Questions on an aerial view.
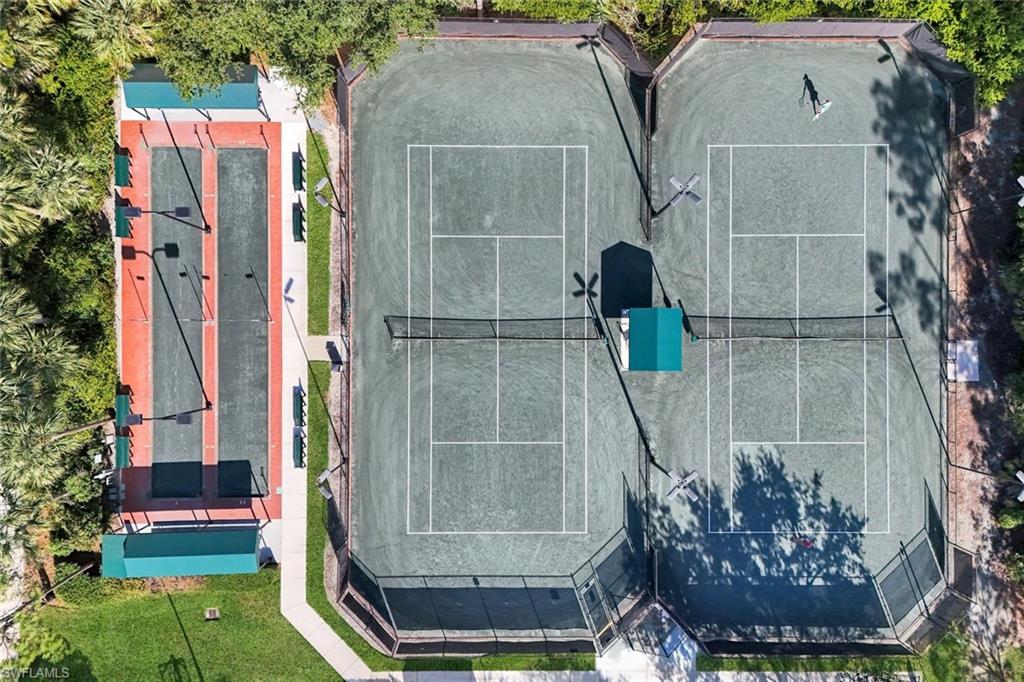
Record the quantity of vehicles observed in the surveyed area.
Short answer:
0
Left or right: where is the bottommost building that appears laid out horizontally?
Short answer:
left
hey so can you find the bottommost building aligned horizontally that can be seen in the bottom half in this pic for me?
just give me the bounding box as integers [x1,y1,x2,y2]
[101,518,272,578]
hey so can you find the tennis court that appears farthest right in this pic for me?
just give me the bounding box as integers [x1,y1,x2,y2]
[649,39,948,636]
